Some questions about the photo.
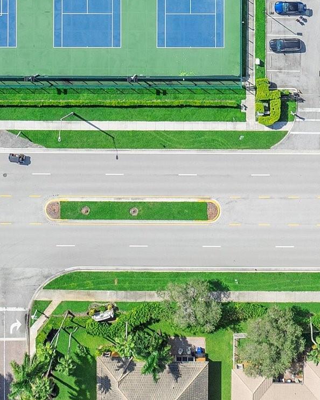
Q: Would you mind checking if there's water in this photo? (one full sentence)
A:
No, the picture contains no water.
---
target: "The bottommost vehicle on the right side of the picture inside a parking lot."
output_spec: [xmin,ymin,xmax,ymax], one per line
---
[270,39,301,53]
